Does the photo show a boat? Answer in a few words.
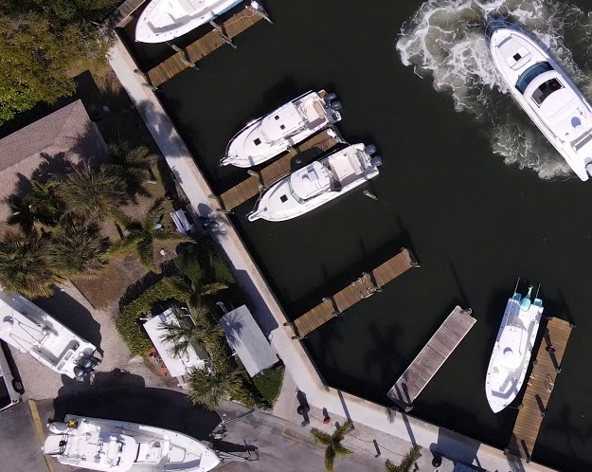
Yes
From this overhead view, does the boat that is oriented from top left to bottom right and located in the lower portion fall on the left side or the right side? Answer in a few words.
left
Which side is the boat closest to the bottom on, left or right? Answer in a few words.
left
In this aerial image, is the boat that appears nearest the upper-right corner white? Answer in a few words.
Yes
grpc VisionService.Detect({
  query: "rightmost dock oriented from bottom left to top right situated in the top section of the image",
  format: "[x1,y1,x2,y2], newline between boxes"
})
[210,123,343,218]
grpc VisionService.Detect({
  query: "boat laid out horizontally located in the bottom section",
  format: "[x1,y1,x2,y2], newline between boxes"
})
[37,416,219,472]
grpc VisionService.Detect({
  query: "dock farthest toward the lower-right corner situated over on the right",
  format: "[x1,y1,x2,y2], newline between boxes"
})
[501,316,577,464]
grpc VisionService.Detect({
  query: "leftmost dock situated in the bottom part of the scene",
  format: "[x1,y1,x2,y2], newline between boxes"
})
[283,247,422,343]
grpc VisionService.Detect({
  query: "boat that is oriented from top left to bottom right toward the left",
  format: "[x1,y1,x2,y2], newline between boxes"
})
[0,283,112,382]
